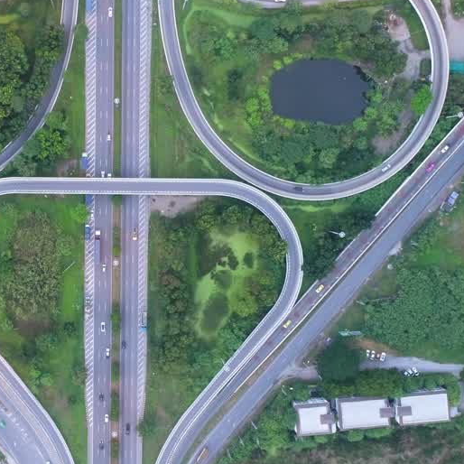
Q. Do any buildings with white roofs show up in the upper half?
No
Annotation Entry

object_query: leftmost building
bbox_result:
[289,393,335,436]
